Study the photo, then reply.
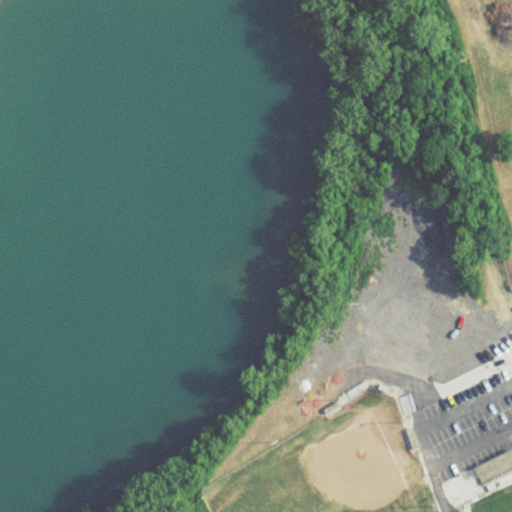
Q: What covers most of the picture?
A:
water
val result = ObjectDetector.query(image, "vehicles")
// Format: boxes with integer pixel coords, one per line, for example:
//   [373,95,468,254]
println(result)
[489,404,496,414]
[501,342,508,352]
[454,424,461,434]
[472,387,479,396]
[484,350,491,360]
[494,360,504,366]
[452,464,459,474]
[480,421,487,431]
[460,392,467,402]
[496,375,502,384]
[478,352,484,362]
[494,346,502,356]
[501,413,508,424]
[455,395,462,404]
[451,330,460,338]
[506,338,512,348]
[448,396,456,406]
[458,317,464,329]
[484,380,492,392]
[442,402,448,412]
[478,384,486,394]
[466,390,474,400]
[490,378,498,388]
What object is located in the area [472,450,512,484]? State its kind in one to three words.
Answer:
building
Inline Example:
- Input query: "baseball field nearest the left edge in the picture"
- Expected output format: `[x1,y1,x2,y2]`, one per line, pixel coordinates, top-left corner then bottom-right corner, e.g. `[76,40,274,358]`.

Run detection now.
[204,391,437,512]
